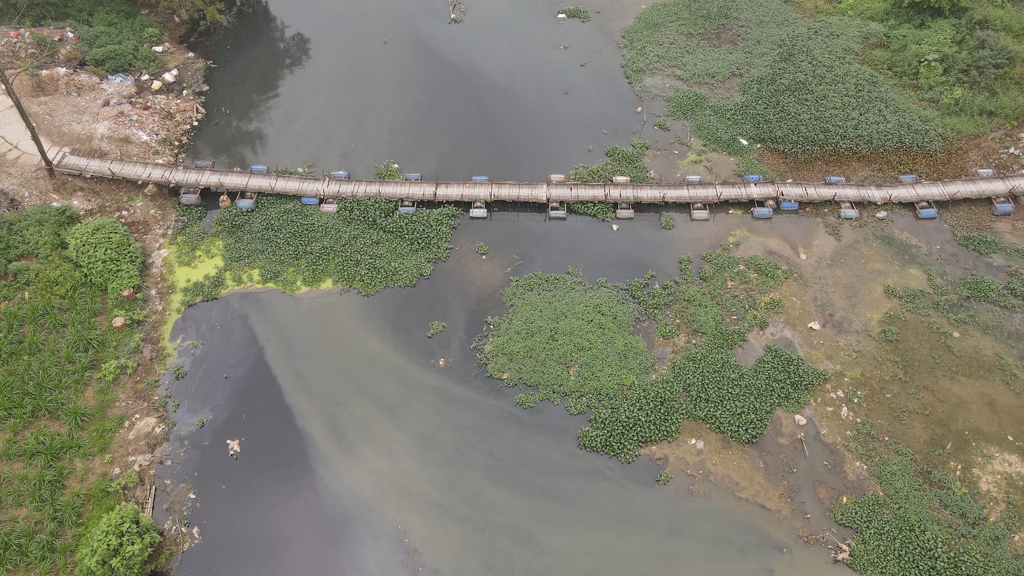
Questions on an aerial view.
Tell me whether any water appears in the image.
Yes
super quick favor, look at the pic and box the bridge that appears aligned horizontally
[53,147,1024,221]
